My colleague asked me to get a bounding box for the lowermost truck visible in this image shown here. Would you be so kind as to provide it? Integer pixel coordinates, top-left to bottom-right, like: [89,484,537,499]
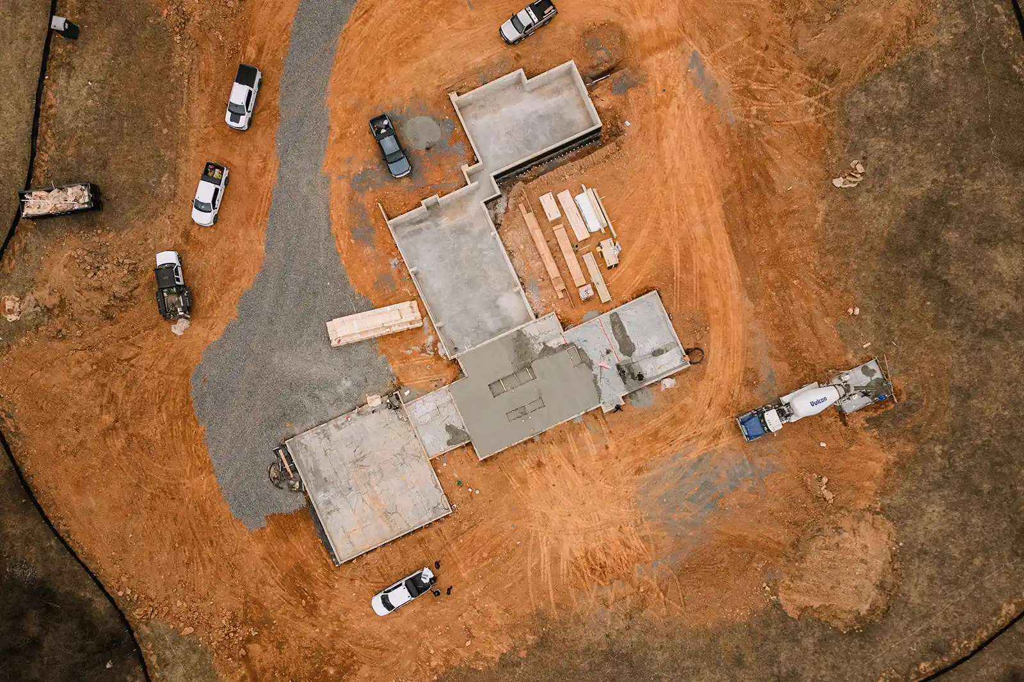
[369,564,437,617]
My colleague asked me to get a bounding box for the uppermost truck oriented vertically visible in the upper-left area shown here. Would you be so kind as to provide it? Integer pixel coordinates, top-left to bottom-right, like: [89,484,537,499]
[225,61,262,131]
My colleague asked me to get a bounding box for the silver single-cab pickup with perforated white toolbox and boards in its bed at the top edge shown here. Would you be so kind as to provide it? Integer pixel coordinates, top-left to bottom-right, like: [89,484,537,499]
[499,0,561,46]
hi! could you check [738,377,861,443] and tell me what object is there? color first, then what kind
white truck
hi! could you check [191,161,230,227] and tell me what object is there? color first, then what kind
white truck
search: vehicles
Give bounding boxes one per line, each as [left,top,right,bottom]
[225,61,262,131]
[191,161,230,227]
[499,0,561,46]
[738,377,861,443]
[367,112,414,178]
[369,564,437,617]
[151,254,194,321]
